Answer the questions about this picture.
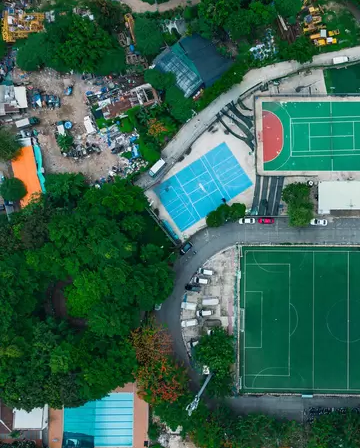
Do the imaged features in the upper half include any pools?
No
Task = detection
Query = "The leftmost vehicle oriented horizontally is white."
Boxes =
[14,114,41,127]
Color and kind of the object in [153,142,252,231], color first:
blue sports court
